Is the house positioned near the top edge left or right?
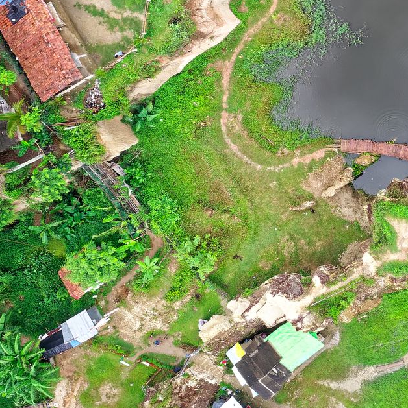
left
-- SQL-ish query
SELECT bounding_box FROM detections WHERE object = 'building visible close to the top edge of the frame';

[0,0,85,101]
